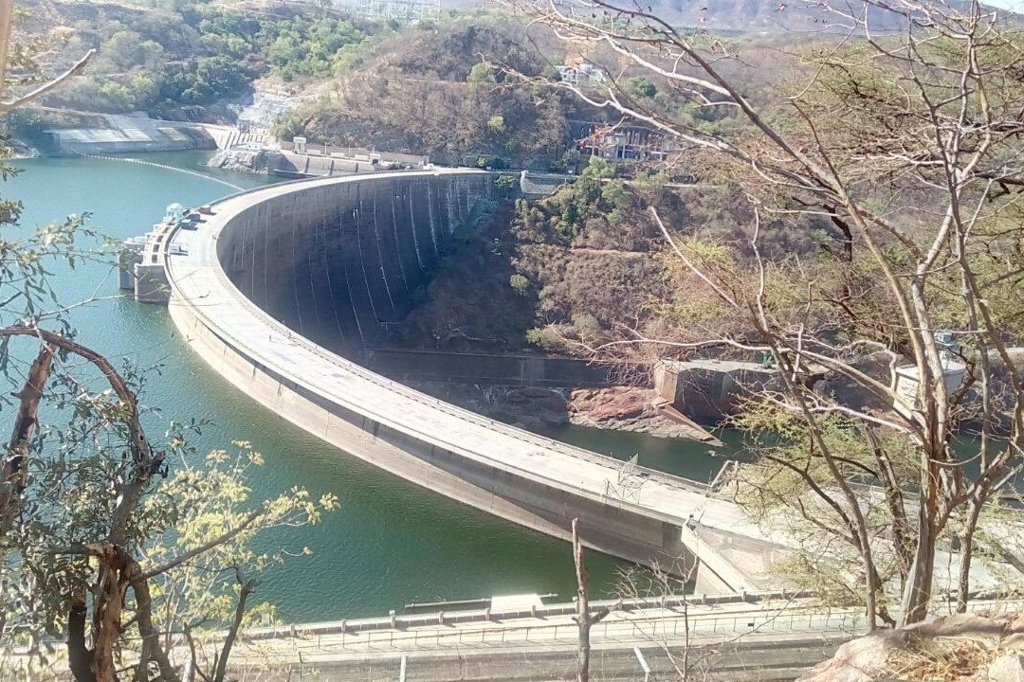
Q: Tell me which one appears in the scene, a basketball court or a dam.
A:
dam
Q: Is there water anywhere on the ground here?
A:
Yes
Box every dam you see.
[159,166,790,584]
